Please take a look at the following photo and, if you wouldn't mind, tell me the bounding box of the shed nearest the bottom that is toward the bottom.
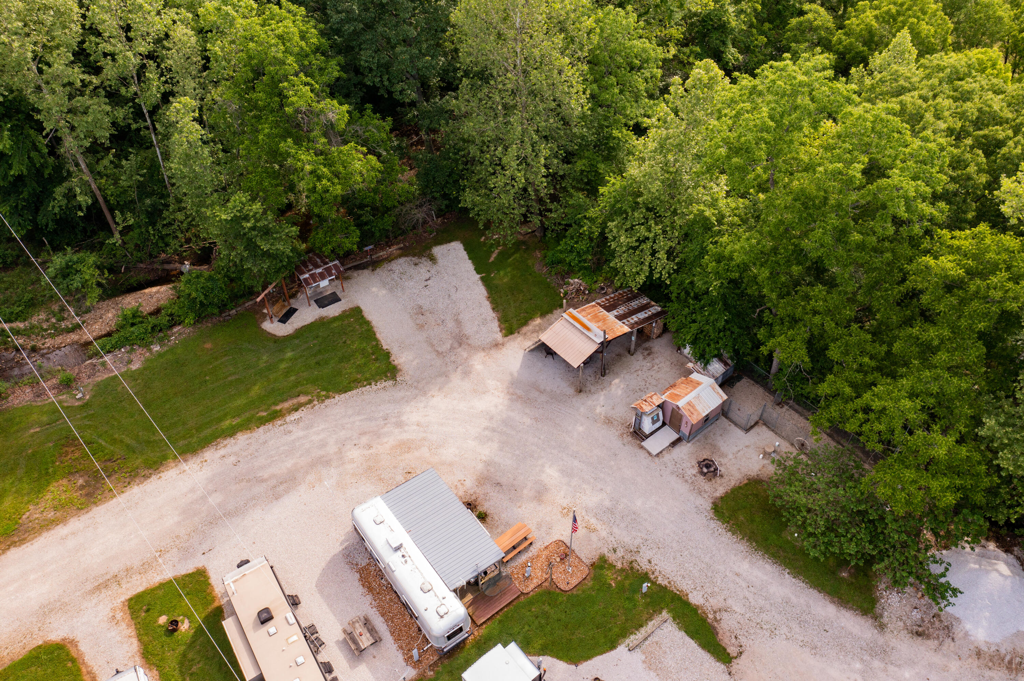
[660,377,728,443]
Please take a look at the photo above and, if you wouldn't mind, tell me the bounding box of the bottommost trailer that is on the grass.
[462,641,542,681]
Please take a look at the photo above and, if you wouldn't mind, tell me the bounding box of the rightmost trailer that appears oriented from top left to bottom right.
[350,493,472,650]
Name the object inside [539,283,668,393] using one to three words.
building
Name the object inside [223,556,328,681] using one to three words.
trailer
